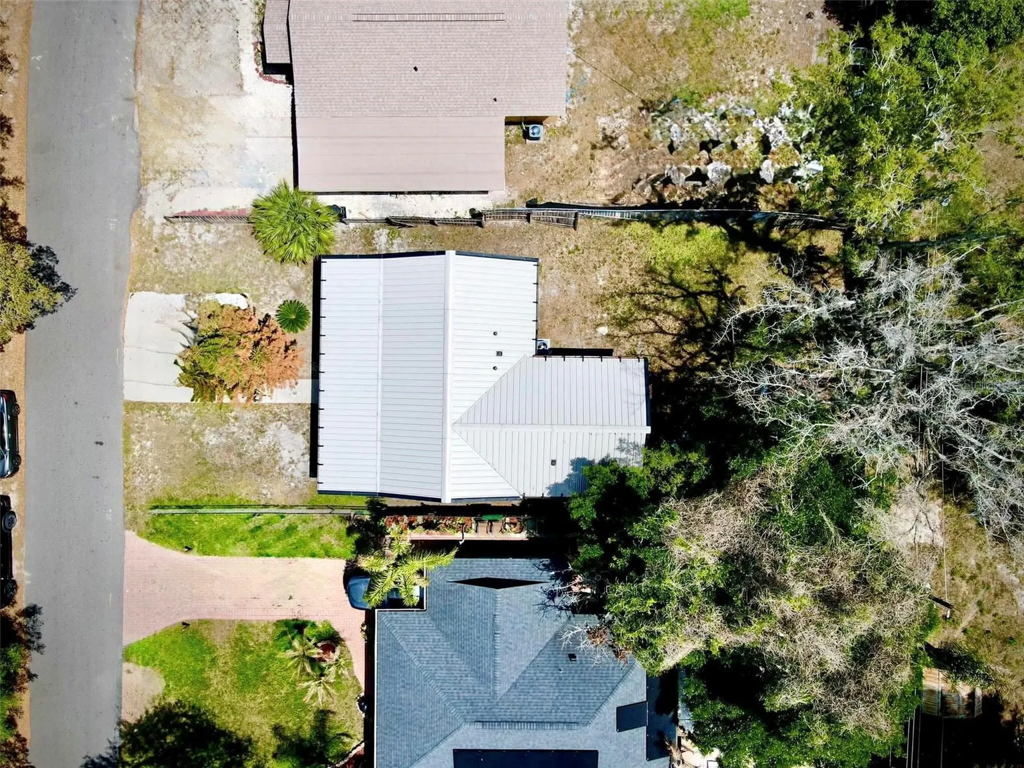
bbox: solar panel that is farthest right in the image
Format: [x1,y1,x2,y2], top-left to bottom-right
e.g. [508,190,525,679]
[617,702,647,733]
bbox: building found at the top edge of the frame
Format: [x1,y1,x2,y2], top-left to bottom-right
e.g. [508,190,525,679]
[259,0,569,194]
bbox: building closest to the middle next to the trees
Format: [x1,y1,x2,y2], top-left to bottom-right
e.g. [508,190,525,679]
[315,246,655,508]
